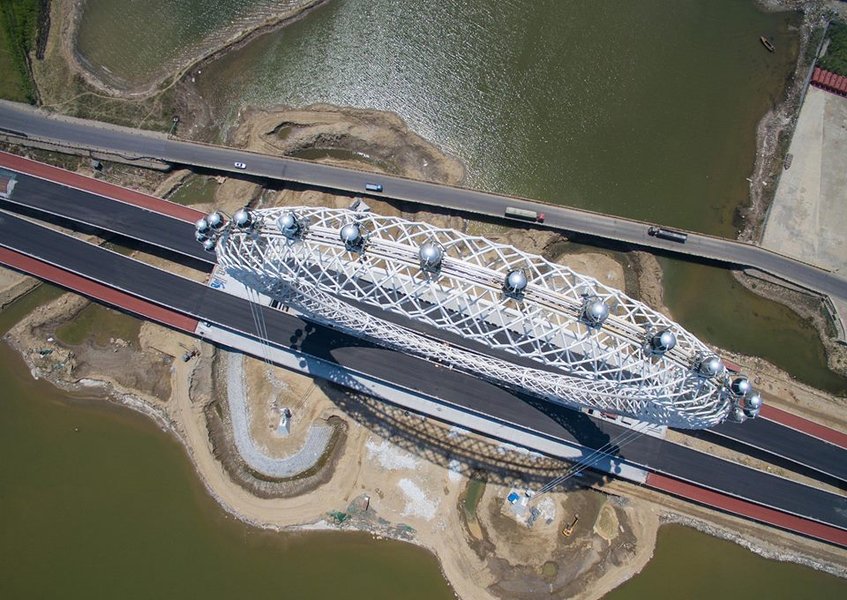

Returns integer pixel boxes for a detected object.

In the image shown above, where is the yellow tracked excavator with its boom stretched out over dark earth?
[562,515,578,538]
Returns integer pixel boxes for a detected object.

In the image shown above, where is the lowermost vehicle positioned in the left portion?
[179,343,200,361]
